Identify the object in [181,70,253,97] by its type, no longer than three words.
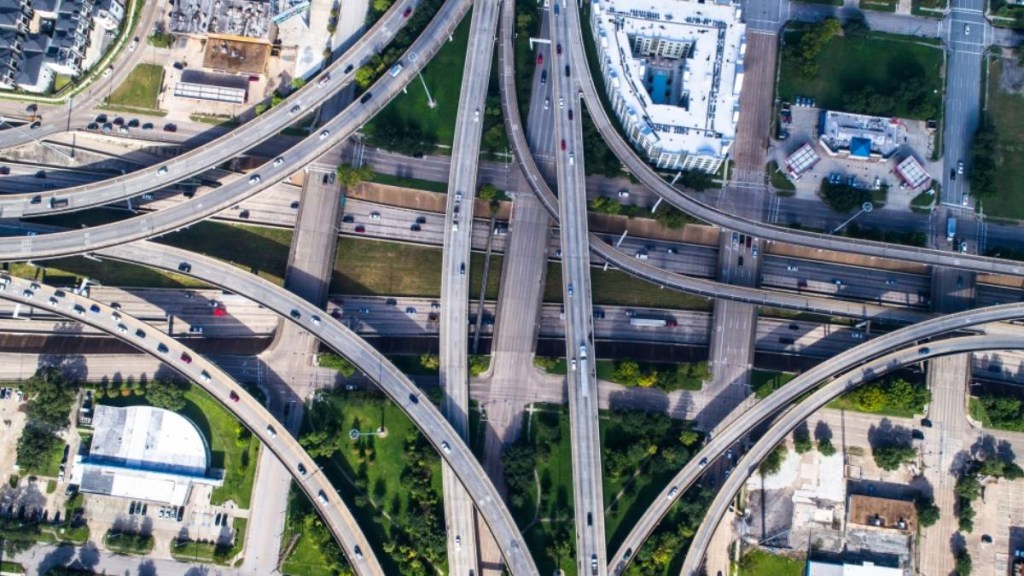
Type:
shed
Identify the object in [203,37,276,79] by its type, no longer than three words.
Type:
building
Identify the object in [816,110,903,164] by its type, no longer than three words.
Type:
gas station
